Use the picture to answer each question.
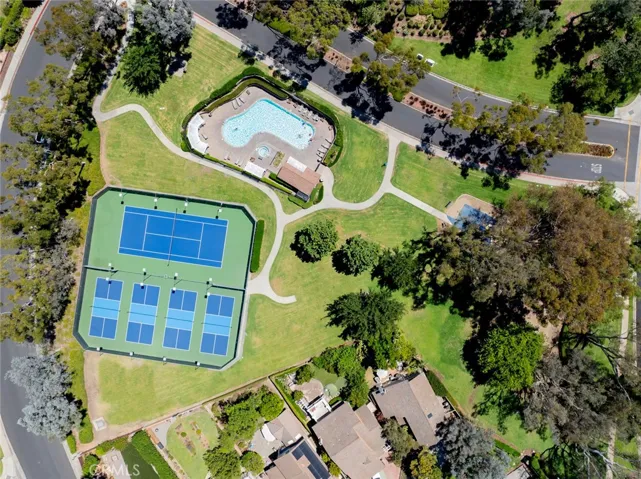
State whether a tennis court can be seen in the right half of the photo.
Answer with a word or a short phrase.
No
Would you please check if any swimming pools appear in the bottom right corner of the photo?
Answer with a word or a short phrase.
No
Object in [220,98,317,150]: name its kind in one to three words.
swimming pool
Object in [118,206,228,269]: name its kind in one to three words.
tennis court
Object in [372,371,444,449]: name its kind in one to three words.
house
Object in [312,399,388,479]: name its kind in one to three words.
house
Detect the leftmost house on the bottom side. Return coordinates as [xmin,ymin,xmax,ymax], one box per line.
[266,436,332,479]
